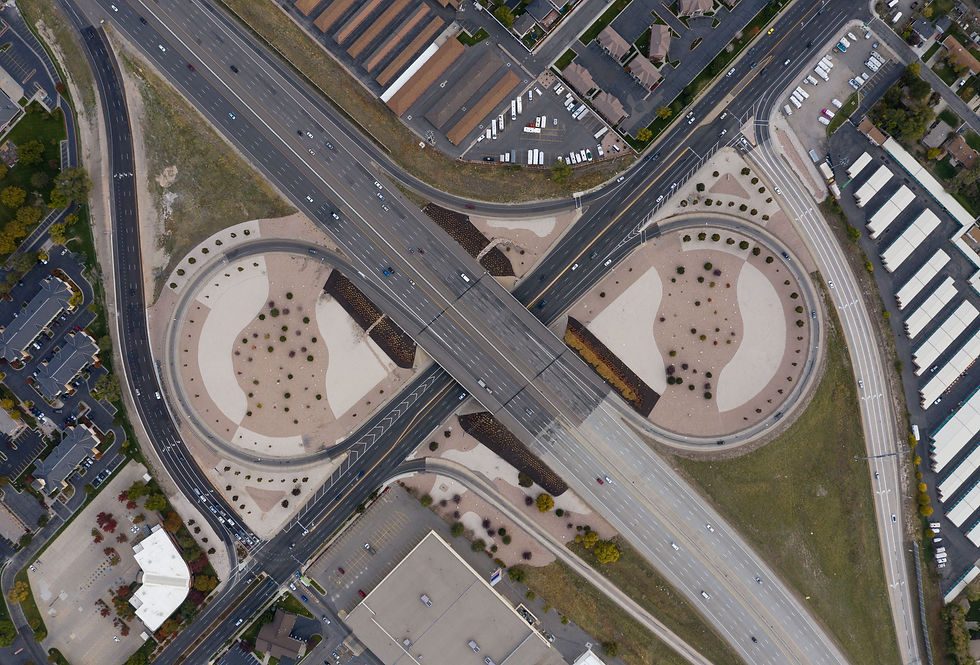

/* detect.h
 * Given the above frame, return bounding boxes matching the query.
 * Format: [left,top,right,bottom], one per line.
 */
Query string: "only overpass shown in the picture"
[412,264,586,439]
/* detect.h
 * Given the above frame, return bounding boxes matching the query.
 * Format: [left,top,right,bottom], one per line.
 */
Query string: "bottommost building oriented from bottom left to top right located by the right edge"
[942,559,980,604]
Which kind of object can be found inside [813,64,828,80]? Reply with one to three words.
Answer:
vehicle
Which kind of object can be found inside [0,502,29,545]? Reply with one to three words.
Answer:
building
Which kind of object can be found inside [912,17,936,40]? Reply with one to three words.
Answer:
house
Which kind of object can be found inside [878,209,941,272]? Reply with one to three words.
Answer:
building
